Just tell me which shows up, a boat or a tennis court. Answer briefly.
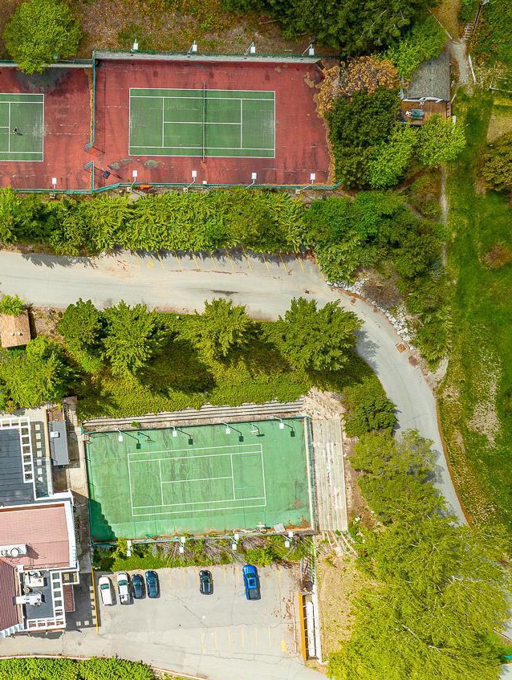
tennis court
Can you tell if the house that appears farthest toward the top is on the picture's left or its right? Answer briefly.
right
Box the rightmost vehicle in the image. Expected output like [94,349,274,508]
[244,565,259,600]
